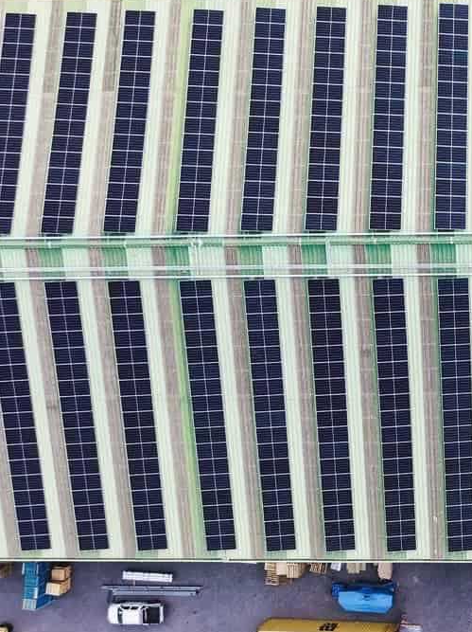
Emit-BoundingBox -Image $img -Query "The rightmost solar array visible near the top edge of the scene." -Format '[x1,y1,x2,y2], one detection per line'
[434,2,471,231]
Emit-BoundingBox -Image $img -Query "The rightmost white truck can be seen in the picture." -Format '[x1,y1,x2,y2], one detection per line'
[109,601,167,628]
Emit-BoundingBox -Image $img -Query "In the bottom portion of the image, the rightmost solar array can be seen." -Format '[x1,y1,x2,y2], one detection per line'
[437,276,472,552]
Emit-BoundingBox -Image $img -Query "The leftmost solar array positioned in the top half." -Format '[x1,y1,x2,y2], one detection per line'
[0,12,37,237]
